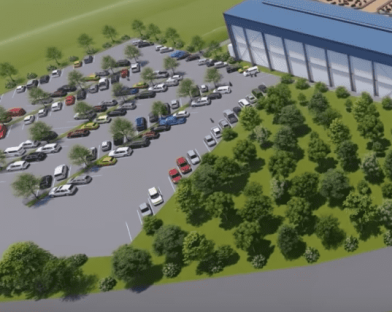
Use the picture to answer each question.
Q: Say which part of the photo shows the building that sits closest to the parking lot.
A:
top right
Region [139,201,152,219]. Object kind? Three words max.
vehicle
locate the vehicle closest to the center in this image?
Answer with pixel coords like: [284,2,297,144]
[187,150,200,164]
